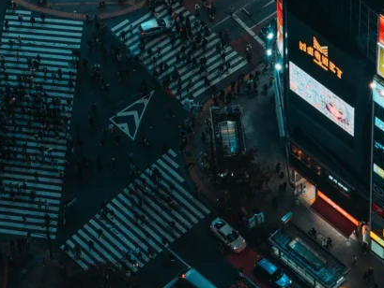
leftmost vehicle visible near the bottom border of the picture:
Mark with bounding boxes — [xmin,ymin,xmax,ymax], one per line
[183,272,211,288]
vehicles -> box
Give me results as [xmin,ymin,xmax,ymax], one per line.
[212,218,244,250]
[135,14,171,36]
[256,256,290,288]
[183,272,211,288]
